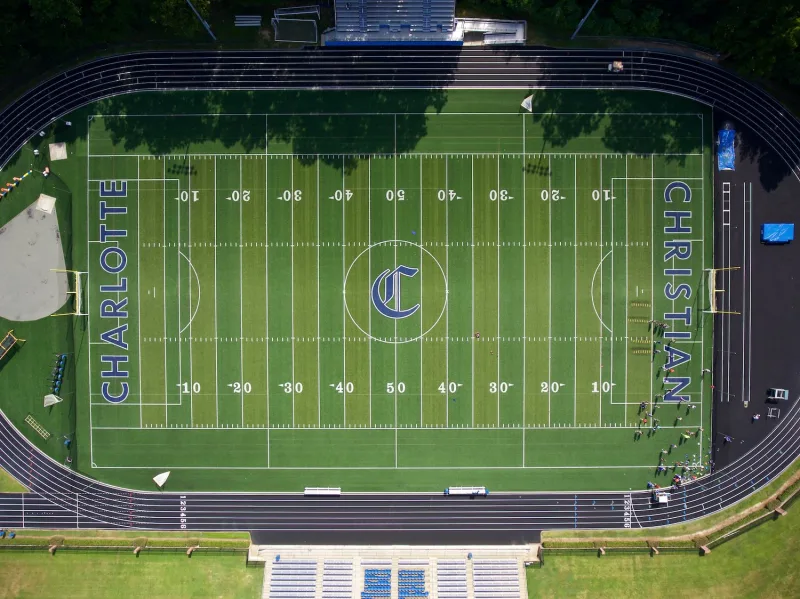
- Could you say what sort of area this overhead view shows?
sports ground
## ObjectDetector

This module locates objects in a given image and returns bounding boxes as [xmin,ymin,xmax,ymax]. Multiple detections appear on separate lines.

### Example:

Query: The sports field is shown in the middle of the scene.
[88,114,704,468]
